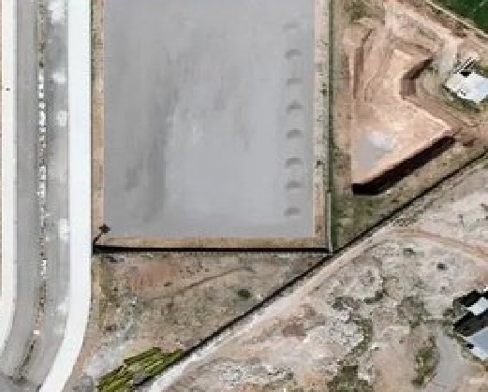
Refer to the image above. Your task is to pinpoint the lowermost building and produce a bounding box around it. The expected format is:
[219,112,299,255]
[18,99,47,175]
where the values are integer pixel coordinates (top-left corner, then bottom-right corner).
[454,324,488,362]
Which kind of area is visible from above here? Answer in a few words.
sports ground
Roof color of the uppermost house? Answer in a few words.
white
